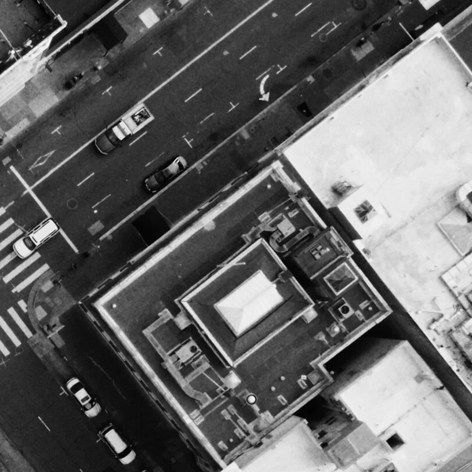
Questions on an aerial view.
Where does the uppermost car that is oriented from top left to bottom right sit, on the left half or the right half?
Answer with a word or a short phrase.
left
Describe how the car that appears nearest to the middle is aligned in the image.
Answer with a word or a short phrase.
on a diagonal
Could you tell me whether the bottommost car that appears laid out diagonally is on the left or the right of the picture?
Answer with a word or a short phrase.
left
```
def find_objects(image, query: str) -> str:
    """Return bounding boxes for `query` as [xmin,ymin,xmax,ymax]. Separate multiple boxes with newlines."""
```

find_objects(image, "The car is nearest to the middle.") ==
[141,153,188,192]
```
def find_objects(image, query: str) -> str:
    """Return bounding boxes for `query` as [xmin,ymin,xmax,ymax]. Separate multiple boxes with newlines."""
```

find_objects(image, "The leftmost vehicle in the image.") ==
[12,215,63,260]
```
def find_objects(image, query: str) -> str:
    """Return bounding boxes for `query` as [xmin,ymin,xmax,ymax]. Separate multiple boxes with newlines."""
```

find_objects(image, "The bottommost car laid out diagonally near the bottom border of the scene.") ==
[97,422,135,465]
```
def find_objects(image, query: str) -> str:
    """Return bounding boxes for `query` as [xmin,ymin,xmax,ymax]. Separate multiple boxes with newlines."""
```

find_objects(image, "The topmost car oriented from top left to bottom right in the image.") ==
[65,376,100,417]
